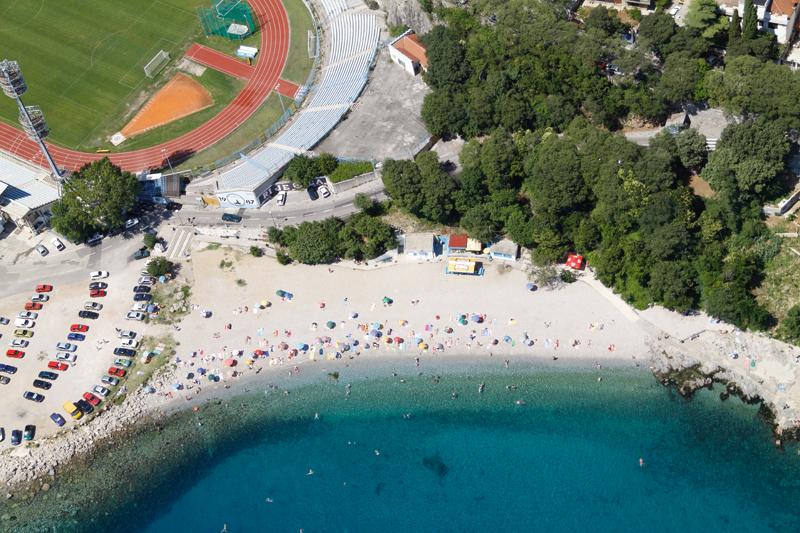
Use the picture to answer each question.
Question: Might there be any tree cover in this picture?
Yes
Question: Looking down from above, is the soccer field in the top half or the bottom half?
top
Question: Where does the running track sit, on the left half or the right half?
left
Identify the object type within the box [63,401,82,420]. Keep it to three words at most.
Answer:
vehicle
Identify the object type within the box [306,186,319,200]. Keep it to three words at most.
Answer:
vehicle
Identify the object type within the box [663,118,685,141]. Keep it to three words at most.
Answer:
house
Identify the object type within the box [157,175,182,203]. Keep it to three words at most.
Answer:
shed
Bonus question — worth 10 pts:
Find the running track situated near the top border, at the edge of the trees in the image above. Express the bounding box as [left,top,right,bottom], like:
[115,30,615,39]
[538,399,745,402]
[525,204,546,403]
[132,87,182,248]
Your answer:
[0,0,291,175]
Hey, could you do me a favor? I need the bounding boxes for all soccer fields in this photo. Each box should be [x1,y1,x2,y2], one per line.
[0,0,262,152]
